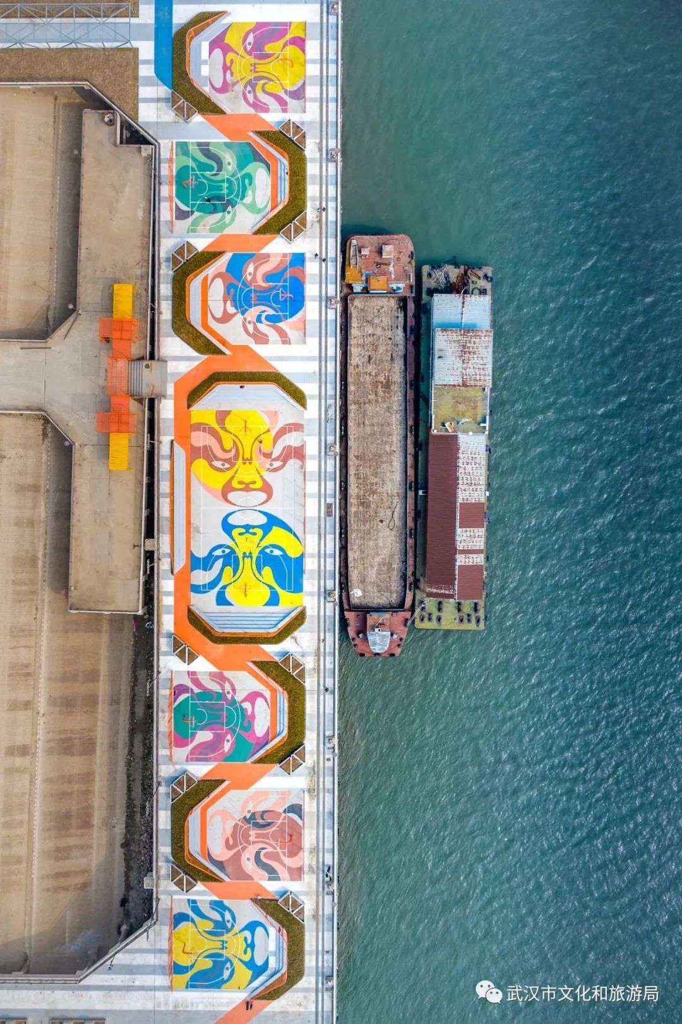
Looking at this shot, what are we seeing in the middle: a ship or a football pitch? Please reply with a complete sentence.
The one visible in the middle is a ship.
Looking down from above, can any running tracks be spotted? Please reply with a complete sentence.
No, the photo shows no running track.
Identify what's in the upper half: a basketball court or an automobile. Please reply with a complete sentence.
Visible in the upper half is a basketball court.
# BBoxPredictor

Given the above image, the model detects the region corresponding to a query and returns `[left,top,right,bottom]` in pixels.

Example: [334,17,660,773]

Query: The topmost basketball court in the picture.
[208,21,305,113]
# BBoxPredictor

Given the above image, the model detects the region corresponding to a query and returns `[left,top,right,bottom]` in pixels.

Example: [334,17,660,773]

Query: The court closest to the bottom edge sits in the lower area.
[172,899,269,990]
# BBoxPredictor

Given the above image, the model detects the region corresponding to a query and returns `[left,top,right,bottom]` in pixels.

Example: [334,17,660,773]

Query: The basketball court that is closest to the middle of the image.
[190,405,304,612]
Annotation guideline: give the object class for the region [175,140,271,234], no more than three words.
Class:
basketball court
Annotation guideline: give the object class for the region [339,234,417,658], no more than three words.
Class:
ship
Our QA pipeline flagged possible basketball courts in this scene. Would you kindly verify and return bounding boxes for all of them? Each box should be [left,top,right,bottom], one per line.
[175,140,271,234]
[208,252,305,345]
[208,21,305,113]
[172,899,269,990]
[172,670,270,763]
[190,405,304,612]
[207,789,303,882]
